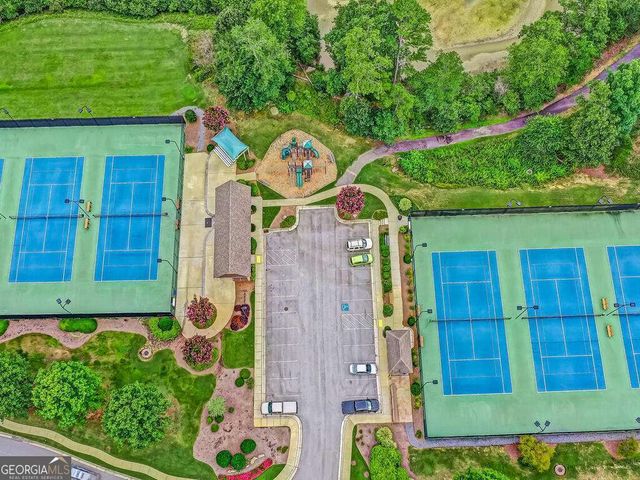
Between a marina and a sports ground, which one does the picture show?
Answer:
sports ground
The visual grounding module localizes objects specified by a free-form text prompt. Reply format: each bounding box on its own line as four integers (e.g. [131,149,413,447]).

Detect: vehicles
[261,400,298,416]
[350,253,372,266]
[341,399,379,414]
[348,238,372,252]
[350,361,376,376]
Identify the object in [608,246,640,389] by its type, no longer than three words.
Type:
tennis court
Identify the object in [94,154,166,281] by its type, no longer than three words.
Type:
tennis court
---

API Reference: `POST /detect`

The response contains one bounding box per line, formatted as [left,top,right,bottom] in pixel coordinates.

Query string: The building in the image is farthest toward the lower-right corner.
[386,329,413,374]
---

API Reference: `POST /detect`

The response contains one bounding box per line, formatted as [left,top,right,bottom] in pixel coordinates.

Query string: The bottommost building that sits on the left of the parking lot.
[213,181,252,281]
